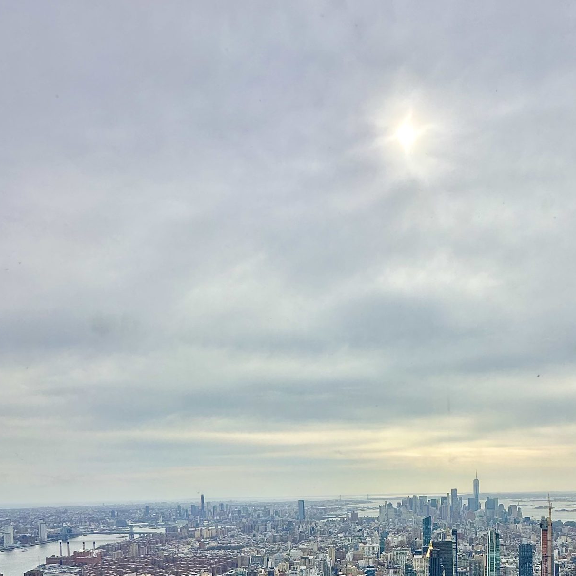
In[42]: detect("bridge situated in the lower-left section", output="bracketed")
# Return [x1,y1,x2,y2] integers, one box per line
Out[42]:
[0,525,190,541]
